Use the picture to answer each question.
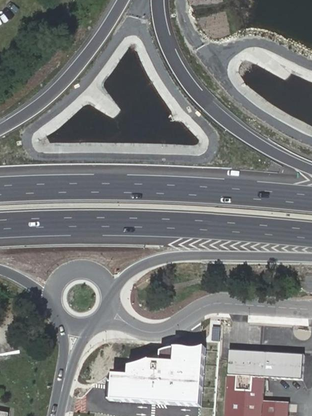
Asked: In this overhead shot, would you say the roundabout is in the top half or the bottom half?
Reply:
bottom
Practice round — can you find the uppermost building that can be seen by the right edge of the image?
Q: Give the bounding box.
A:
[226,350,304,380]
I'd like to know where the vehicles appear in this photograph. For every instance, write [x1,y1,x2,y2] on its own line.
[226,170,239,176]
[258,192,270,198]
[130,194,142,198]
[220,198,231,203]
[7,2,18,14]
[3,8,13,20]
[0,12,8,23]
[50,404,57,416]
[280,380,289,390]
[28,222,40,228]
[292,381,300,390]
[58,325,64,336]
[56,370,63,381]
